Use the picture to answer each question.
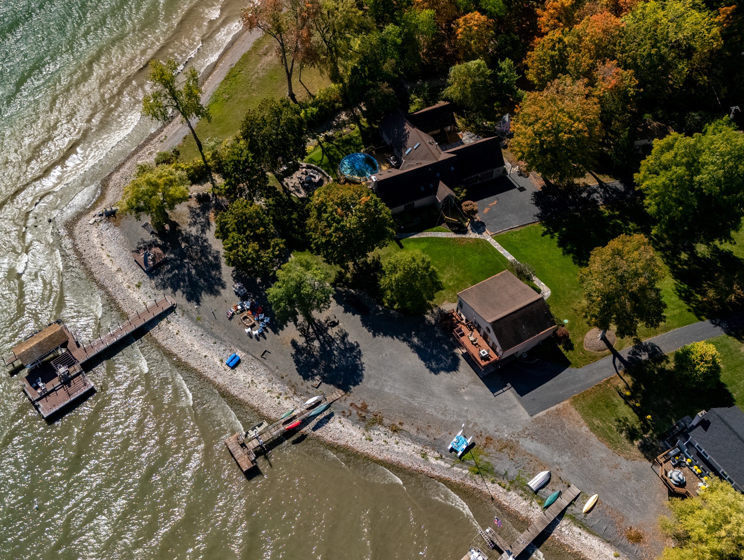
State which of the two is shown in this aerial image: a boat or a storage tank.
boat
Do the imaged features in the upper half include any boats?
No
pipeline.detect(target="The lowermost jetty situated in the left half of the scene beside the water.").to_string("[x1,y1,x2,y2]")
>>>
[225,390,347,476]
